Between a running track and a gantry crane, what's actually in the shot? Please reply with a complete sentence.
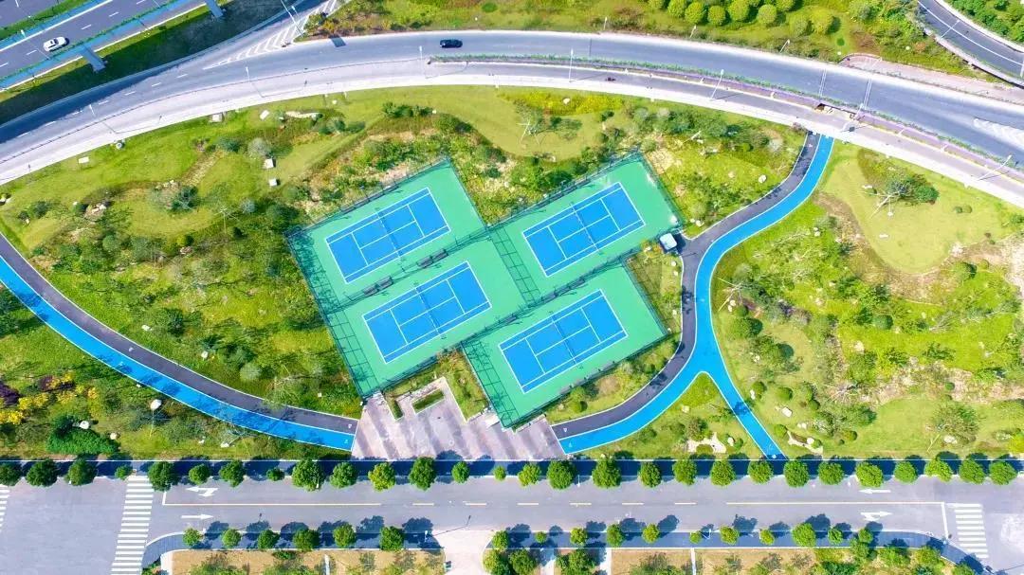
There is a running track in the scene.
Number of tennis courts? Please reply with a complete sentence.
Looking from above, you can make out 4 tennis courts.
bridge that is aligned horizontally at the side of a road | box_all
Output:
[0,0,231,85]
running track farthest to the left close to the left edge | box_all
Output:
[0,234,358,451]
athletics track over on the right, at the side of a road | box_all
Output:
[551,131,834,460]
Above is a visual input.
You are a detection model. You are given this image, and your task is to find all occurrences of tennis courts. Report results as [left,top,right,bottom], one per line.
[488,149,683,305]
[462,258,666,426]
[327,229,528,397]
[289,159,485,313]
